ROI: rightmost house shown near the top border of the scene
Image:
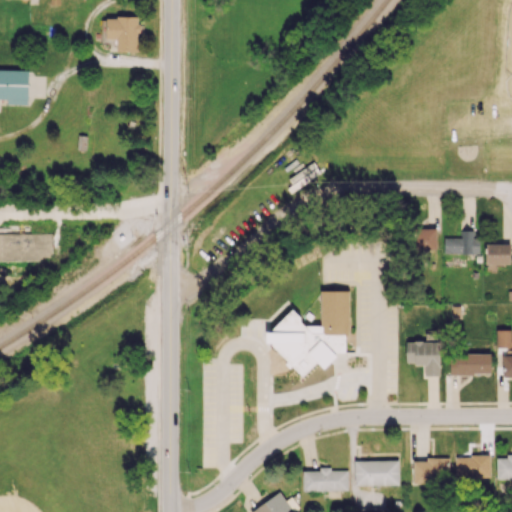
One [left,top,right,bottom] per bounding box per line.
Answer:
[102,16,146,52]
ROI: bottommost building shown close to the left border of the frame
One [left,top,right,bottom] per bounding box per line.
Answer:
[0,234,54,262]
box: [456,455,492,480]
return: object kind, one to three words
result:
house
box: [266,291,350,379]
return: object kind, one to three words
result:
building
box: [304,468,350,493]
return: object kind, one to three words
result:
house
